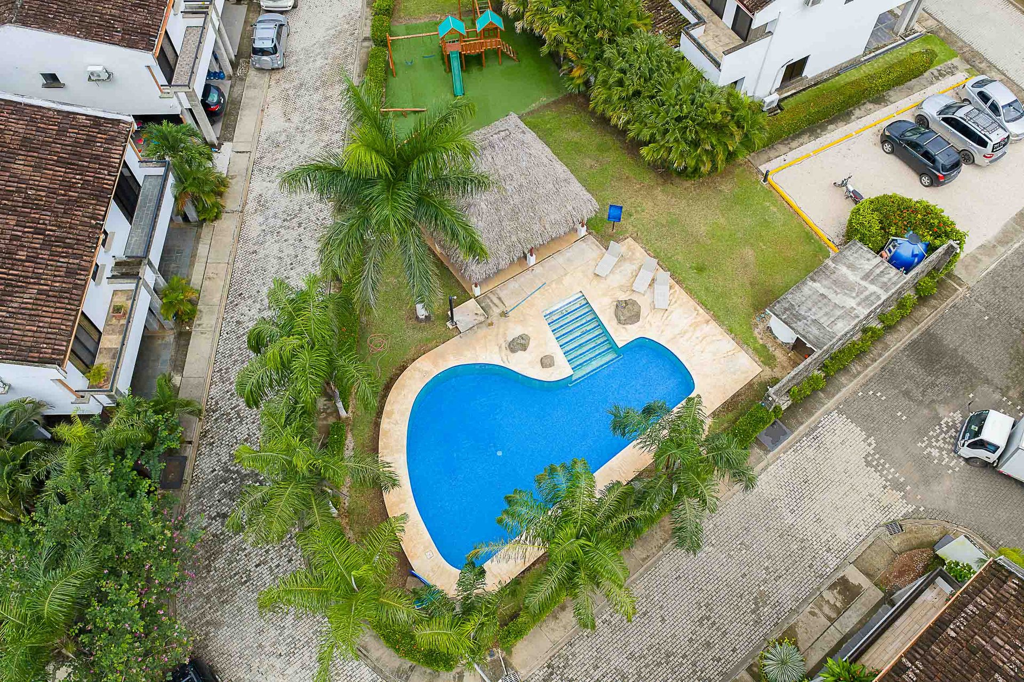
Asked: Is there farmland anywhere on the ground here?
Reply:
No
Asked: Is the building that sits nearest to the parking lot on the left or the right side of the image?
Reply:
right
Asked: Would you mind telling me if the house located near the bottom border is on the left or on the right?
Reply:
right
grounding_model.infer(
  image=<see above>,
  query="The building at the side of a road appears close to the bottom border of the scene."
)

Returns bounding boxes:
[816,549,1024,682]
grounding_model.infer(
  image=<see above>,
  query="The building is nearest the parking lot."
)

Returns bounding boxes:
[767,237,905,372]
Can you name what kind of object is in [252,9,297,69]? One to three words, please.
car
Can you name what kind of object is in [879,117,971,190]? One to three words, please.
car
